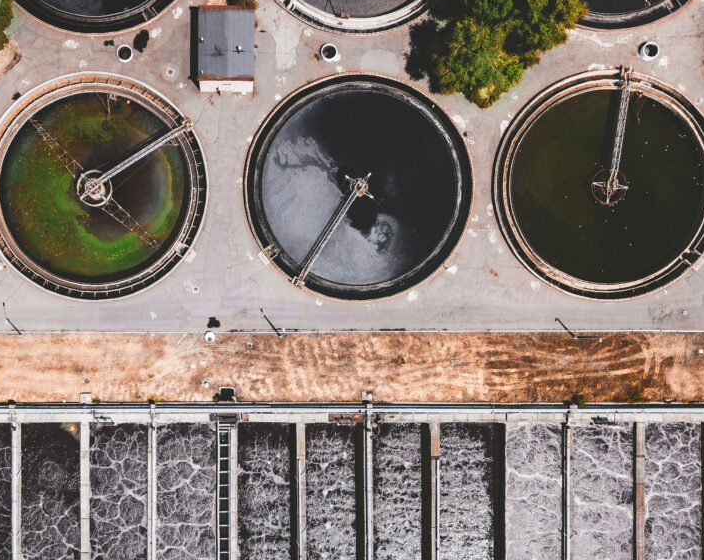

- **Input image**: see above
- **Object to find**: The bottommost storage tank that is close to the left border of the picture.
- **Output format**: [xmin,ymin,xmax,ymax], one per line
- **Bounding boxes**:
[0,70,209,301]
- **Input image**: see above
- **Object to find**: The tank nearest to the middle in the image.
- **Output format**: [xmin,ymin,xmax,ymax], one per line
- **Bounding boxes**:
[241,69,475,303]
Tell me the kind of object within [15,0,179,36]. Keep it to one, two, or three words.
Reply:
storage tank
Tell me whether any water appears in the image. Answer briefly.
Yes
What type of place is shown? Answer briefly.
industrial area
